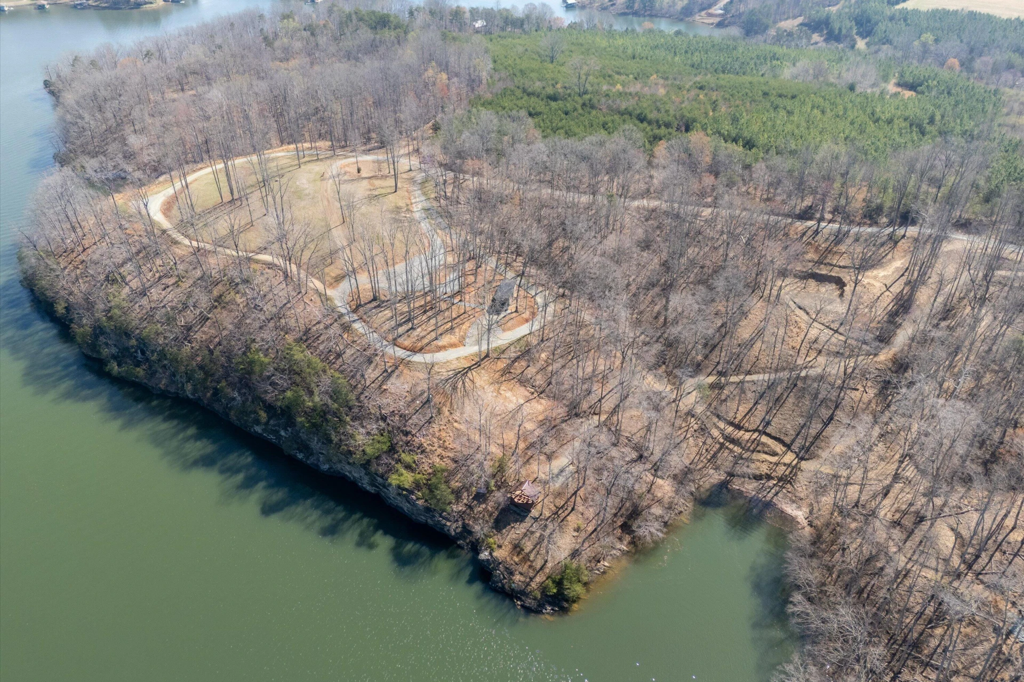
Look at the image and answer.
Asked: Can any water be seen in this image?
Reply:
Yes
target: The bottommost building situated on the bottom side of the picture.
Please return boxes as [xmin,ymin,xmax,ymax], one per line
[510,476,541,515]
